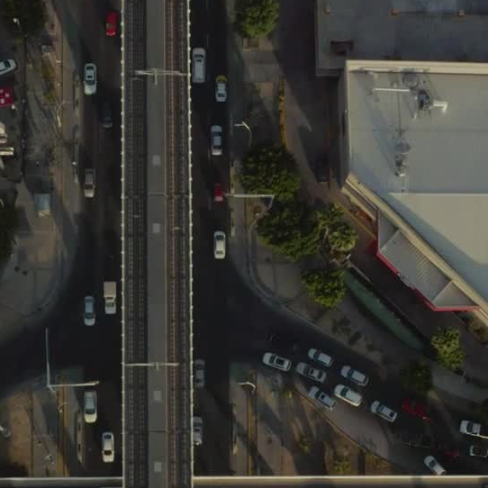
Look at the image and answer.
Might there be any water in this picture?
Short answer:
No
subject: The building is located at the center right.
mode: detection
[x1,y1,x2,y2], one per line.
[336,62,488,332]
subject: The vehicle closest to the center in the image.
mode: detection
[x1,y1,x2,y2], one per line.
[214,231,227,260]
